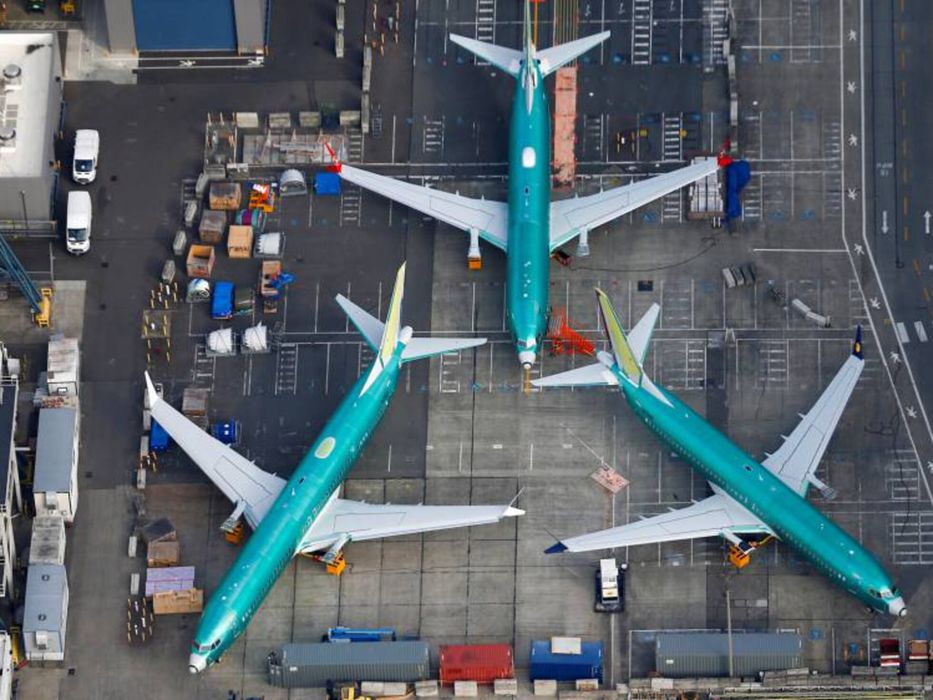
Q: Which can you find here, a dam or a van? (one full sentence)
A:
The image shows a van.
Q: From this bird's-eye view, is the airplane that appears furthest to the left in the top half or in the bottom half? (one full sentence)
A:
Seen from above, the airplane that appears furthest to the left lies in the bottom half of the view.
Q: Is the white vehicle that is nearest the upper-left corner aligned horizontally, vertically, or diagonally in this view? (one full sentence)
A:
In this picture, the white vehicle that is nearest the upper-left corner lies vertically.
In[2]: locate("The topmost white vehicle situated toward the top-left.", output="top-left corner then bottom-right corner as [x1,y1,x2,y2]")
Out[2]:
[70,129,97,180]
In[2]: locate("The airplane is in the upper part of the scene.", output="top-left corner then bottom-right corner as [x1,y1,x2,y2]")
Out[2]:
[325,0,733,367]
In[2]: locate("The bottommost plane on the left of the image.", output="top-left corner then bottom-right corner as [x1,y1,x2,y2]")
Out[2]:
[145,262,527,674]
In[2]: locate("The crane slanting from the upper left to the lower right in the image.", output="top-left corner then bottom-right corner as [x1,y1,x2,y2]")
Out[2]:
[0,226,52,326]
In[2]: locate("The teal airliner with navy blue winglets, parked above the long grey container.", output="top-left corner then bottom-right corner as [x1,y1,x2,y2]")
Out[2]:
[530,288,907,616]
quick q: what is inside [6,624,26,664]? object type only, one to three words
work vehicle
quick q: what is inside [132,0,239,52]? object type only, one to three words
hangar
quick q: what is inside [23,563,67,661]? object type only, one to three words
trailer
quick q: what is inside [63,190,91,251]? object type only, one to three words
van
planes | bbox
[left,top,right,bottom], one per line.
[530,288,907,616]
[145,262,527,674]
[325,0,733,367]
